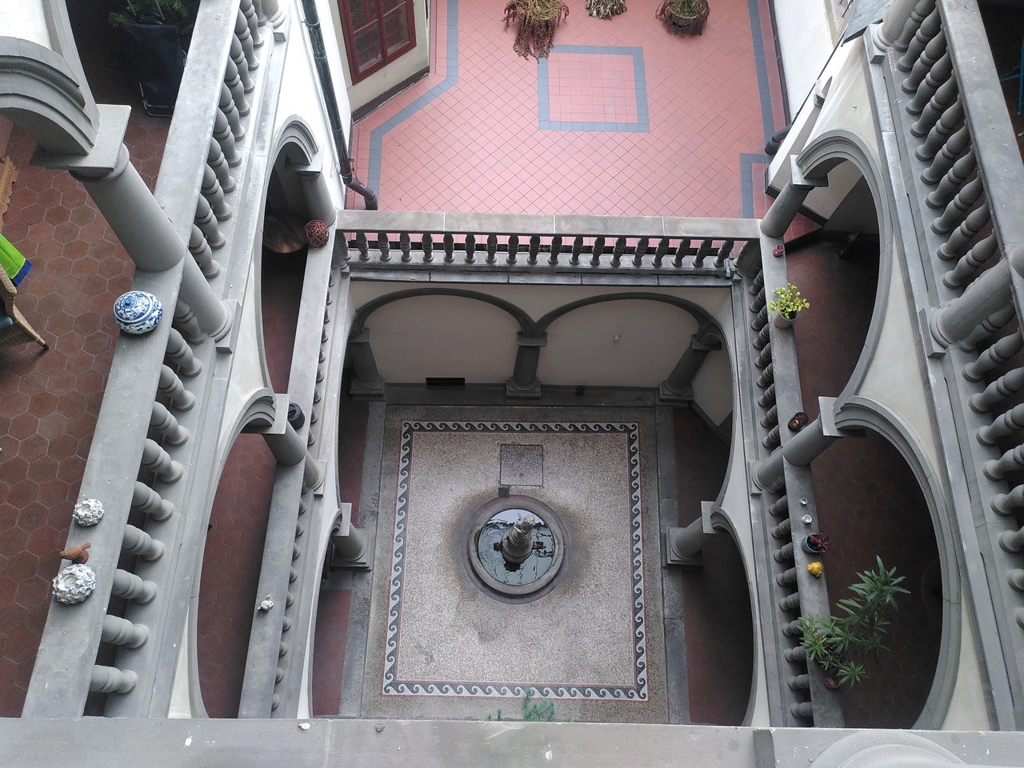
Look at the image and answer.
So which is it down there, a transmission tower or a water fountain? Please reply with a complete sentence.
Of the two, only a water fountain appears.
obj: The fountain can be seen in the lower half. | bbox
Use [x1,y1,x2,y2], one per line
[462,496,570,604]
